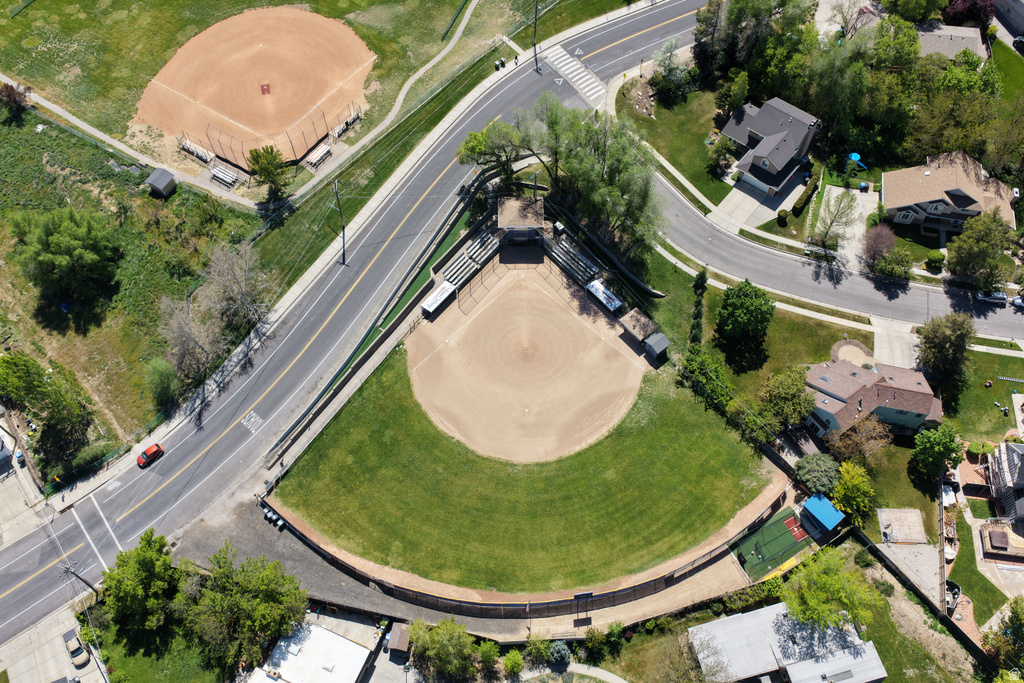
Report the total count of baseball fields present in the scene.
two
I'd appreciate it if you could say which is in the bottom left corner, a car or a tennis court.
car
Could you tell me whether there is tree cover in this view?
Yes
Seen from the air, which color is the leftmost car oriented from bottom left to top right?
red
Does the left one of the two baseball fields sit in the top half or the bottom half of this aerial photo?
top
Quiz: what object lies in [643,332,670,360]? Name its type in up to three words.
shed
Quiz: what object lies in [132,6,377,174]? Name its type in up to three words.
baseball field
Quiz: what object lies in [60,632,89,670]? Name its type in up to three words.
car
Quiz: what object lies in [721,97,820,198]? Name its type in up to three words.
house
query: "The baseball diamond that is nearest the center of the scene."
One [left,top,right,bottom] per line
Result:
[262,238,794,603]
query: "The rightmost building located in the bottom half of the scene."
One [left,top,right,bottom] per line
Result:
[980,437,1024,522]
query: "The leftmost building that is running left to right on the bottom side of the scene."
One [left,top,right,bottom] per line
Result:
[235,622,371,683]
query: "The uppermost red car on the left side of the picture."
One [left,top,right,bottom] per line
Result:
[134,443,165,469]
